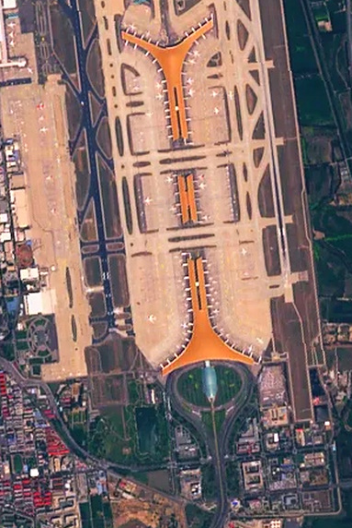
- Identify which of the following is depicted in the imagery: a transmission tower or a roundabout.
roundabout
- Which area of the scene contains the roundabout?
bottom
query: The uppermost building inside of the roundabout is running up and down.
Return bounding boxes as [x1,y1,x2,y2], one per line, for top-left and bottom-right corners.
[202,361,217,402]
